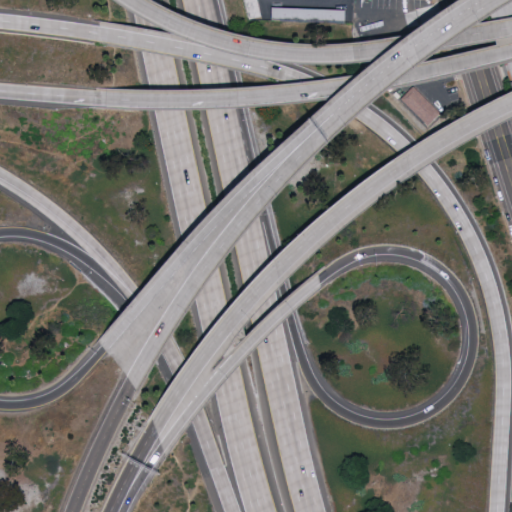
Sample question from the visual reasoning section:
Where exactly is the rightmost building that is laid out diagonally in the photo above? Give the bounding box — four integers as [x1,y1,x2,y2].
[401,86,440,128]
